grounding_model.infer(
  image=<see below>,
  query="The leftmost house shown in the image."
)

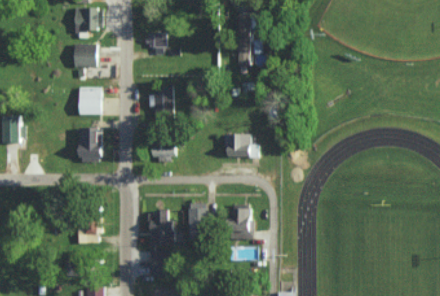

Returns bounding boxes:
[2,116,27,145]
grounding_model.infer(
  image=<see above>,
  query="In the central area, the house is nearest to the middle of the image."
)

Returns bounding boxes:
[224,134,260,159]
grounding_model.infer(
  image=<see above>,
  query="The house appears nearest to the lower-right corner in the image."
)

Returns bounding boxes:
[228,206,256,240]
